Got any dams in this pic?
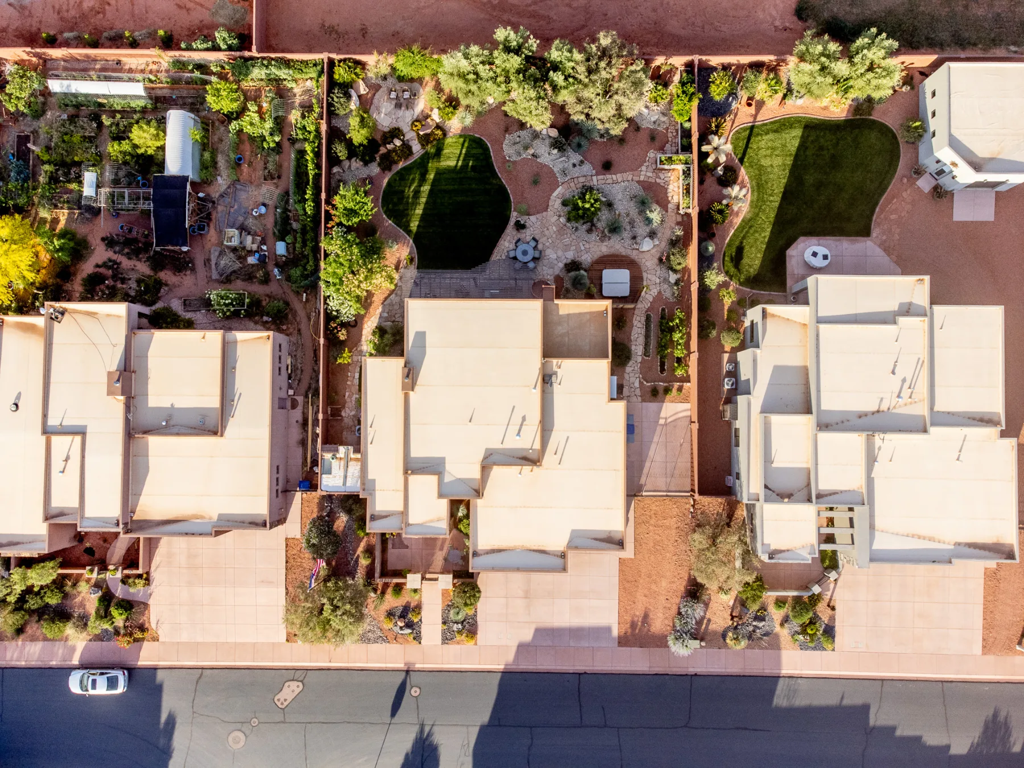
No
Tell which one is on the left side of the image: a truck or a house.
house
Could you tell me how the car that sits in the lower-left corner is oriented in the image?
from left to right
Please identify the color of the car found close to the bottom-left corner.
white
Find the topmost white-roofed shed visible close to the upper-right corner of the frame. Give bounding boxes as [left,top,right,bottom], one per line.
[923,63,1024,186]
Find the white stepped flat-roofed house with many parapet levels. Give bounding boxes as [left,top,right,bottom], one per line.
[733,276,1017,568]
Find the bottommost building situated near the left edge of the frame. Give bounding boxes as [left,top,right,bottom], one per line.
[0,302,290,557]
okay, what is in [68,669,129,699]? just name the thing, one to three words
car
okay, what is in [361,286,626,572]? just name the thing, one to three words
house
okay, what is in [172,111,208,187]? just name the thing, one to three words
greenhouse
